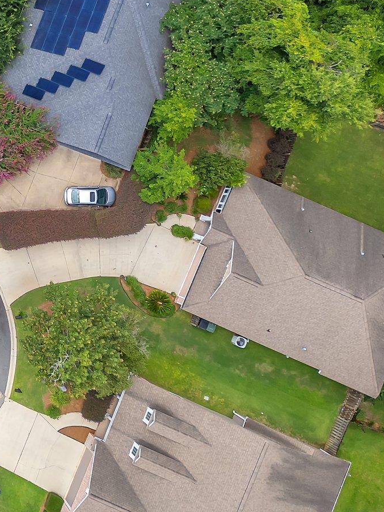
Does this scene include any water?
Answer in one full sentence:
No, the scene doesn't show any water.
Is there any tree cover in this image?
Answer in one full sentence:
Yes, some tree cover is visible.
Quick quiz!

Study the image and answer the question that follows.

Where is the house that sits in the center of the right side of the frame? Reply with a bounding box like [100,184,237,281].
[176,172,384,399]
